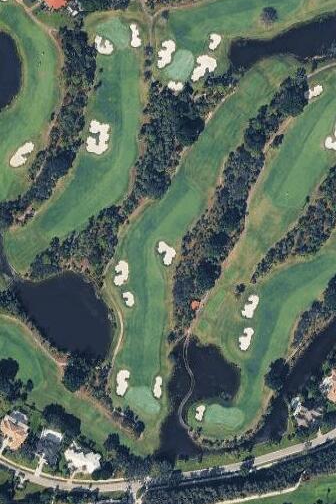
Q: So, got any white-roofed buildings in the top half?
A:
No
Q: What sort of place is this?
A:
golf course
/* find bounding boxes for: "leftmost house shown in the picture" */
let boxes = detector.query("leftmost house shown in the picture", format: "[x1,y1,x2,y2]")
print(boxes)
[0,411,31,450]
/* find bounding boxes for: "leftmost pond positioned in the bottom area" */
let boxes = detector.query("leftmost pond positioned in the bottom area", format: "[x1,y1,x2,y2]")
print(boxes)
[0,243,115,362]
